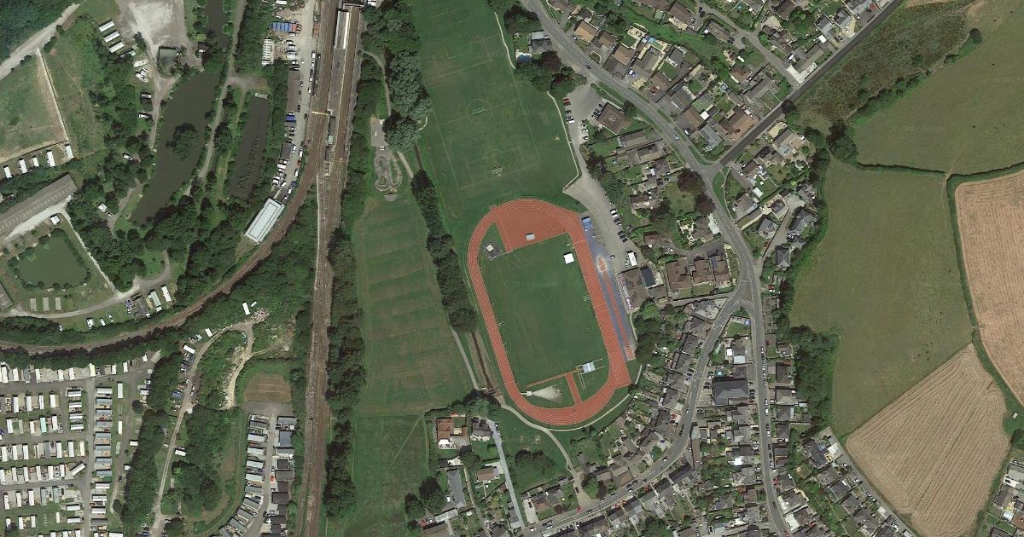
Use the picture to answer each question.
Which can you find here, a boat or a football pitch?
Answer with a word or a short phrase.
football pitch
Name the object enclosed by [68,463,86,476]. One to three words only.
vehicle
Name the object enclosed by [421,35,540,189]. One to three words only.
soccer field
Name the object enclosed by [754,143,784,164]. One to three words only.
house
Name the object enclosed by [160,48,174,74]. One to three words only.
building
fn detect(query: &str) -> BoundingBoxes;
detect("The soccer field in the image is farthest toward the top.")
[420,7,497,77]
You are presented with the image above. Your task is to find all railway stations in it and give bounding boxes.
[326,1,364,175]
